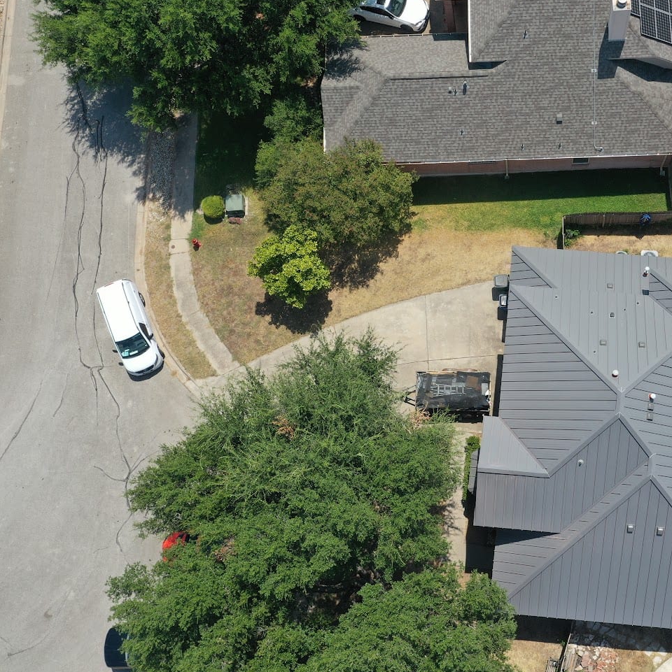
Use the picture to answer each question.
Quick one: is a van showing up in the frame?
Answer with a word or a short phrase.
Yes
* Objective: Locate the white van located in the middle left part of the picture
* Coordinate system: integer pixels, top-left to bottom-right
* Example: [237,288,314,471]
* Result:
[99,285,171,382]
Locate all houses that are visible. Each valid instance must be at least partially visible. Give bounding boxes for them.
[474,245,672,629]
[321,0,672,190]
